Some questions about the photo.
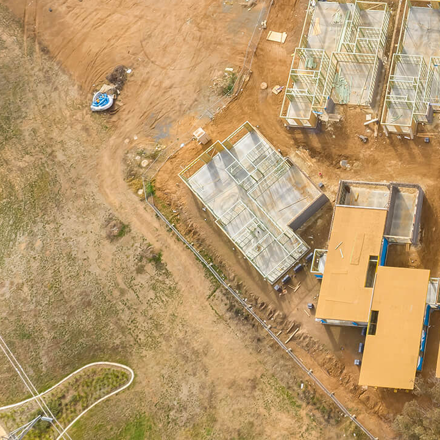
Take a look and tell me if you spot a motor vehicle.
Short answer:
No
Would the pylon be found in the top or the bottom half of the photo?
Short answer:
bottom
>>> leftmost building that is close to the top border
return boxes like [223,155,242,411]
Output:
[283,0,392,129]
